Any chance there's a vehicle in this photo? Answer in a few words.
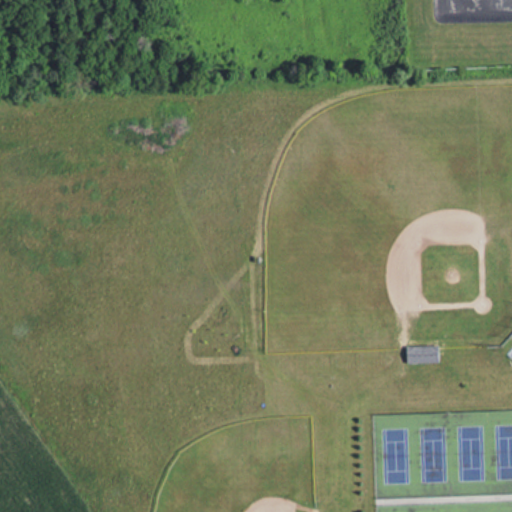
No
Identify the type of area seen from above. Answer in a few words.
sports ground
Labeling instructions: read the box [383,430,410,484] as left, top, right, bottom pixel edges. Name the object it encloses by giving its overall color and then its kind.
blue tennis court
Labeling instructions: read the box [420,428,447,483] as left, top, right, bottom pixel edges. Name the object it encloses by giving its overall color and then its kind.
blue tennis court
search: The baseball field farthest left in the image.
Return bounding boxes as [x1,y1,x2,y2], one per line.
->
[152,415,320,512]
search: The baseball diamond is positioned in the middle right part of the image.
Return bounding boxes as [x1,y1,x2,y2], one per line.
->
[265,84,512,354]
